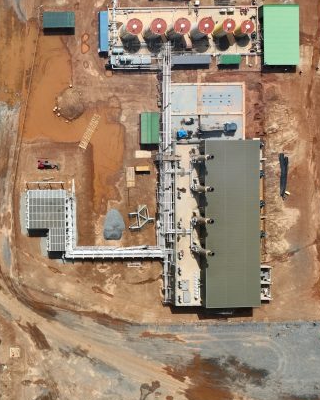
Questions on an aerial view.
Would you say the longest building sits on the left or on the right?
right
